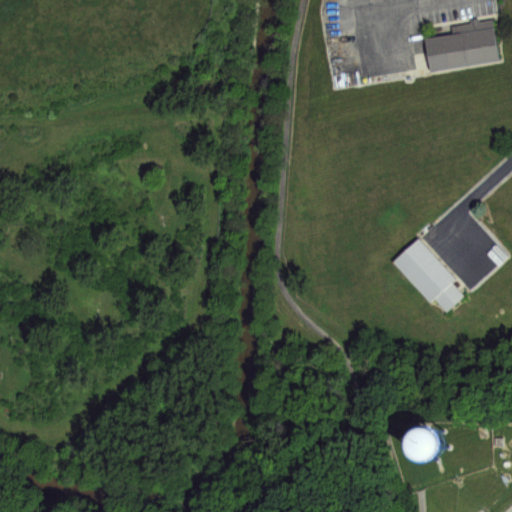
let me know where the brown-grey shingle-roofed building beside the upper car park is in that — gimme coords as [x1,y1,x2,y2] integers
[425,16,500,72]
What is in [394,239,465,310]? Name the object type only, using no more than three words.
building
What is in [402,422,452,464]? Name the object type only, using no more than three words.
water tower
